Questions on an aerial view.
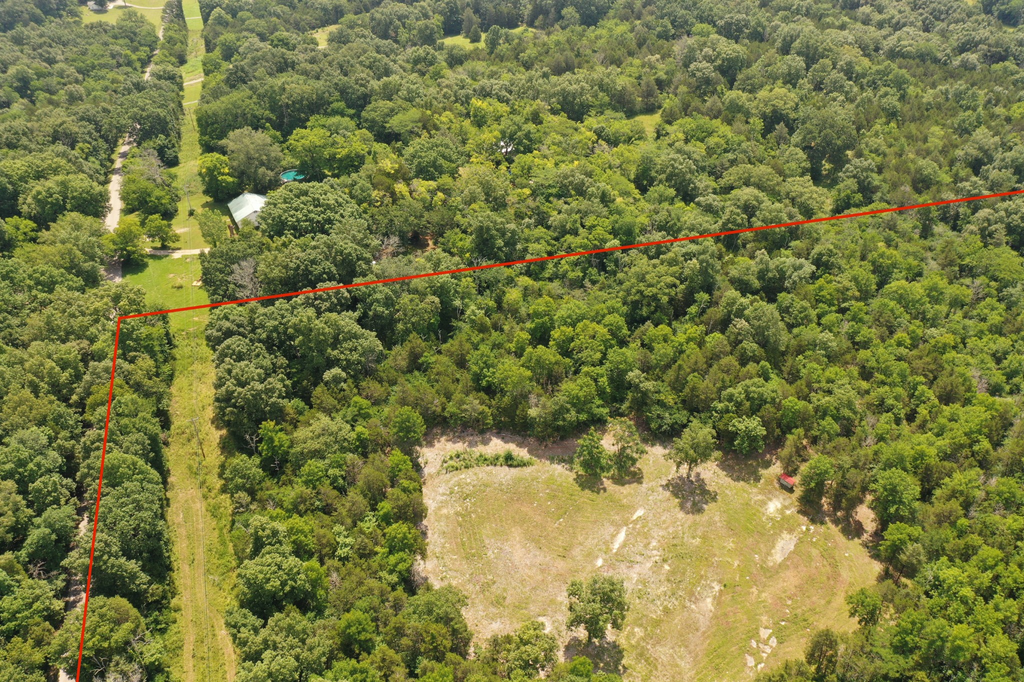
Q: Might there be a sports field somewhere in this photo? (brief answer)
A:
No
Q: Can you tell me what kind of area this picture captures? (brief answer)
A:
forest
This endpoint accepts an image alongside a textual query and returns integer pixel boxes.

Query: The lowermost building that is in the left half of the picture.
[228,192,273,226]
